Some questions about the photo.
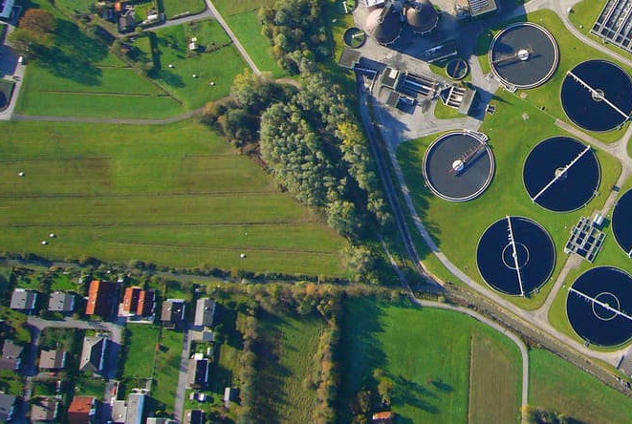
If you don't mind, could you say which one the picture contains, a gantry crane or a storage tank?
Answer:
storage tank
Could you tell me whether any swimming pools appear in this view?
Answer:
No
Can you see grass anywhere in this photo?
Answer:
Yes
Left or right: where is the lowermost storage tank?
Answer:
right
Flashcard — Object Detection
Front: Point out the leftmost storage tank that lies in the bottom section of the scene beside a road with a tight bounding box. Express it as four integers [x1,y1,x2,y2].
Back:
[476,215,556,299]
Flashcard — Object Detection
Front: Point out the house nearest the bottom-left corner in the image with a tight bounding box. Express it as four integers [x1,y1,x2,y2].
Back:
[0,393,19,423]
